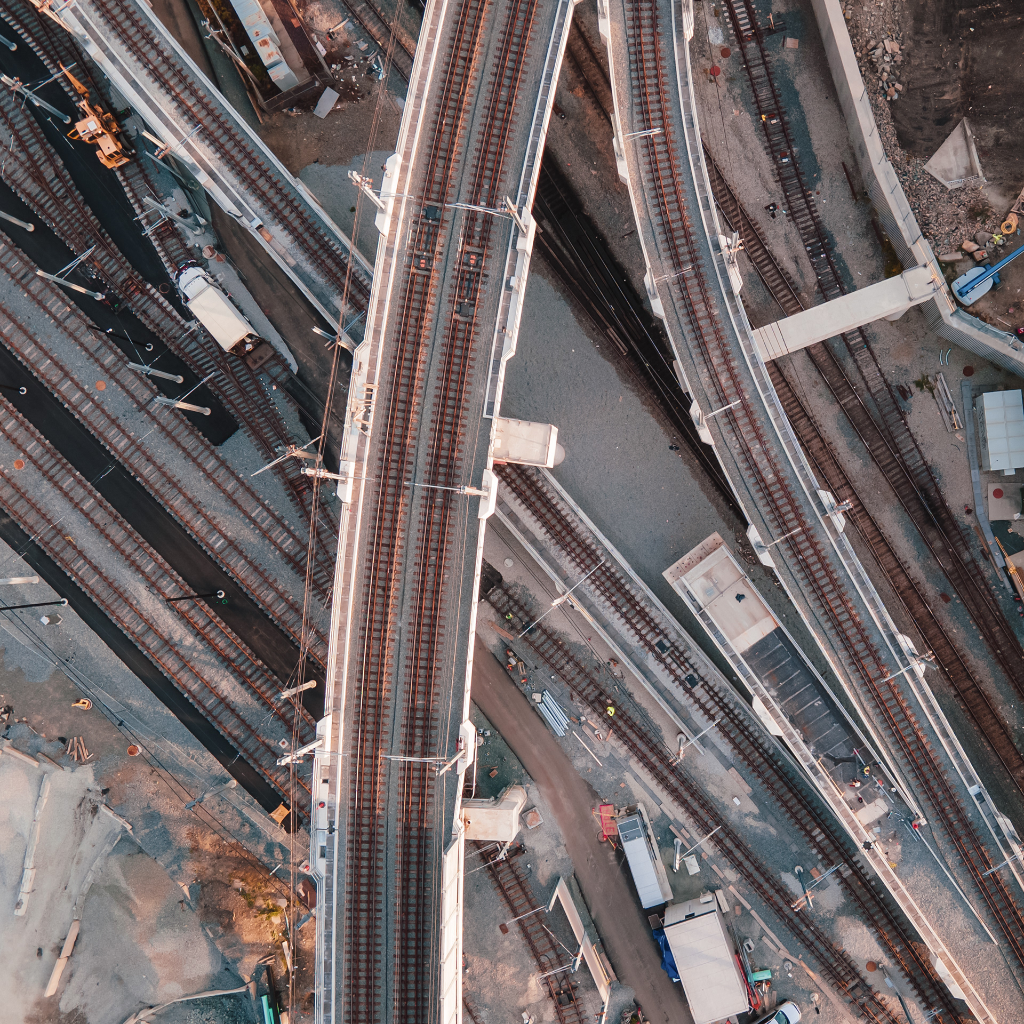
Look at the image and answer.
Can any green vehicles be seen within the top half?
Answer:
No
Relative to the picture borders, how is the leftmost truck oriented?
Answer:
on a diagonal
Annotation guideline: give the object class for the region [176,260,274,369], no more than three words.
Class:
truck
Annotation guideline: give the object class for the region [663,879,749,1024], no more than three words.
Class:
building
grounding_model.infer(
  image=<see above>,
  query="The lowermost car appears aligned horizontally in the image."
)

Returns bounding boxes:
[747,1002,798,1024]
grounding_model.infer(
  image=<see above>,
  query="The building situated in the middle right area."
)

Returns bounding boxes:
[971,389,1024,476]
